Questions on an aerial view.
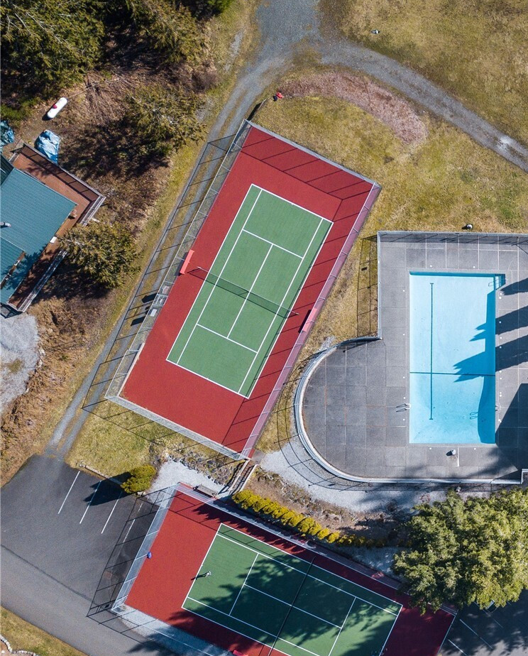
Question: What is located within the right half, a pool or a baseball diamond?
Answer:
pool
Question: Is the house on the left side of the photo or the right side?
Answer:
left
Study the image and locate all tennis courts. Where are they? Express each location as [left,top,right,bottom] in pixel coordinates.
[125,483,454,656]
[120,127,379,458]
